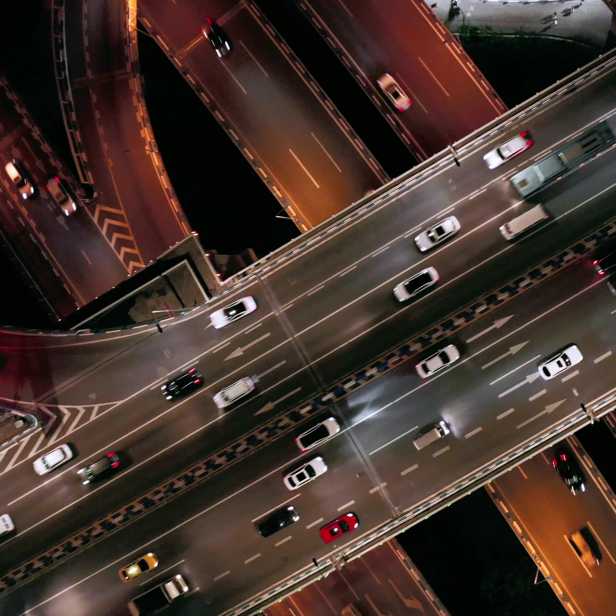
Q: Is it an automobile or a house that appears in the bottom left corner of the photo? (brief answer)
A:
automobile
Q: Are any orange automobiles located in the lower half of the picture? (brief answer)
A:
Yes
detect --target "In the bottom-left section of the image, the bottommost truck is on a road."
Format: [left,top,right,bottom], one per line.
[126,571,190,616]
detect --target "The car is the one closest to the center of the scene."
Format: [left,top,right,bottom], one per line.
[213,294,258,328]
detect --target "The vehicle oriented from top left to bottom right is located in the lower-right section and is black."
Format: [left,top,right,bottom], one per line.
[554,454,583,493]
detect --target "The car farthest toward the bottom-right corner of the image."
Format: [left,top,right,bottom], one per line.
[571,527,600,565]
